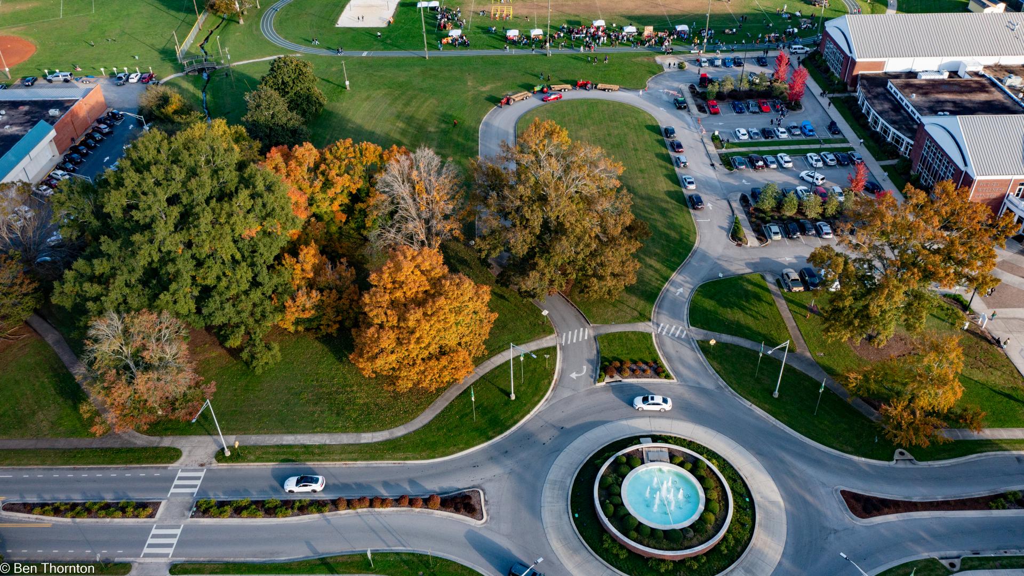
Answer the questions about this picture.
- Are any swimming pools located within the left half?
No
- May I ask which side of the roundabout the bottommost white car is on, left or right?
to its left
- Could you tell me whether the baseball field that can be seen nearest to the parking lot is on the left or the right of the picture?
left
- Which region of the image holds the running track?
top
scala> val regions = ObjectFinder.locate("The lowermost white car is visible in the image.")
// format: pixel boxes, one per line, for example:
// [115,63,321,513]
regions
[283,475,327,495]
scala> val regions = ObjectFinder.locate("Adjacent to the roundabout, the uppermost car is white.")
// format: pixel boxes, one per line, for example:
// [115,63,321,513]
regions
[632,395,673,413]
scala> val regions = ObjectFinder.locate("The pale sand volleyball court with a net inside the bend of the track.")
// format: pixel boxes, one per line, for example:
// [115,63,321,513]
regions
[336,0,400,27]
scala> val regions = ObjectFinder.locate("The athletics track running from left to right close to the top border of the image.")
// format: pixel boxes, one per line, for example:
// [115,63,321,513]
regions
[261,0,861,56]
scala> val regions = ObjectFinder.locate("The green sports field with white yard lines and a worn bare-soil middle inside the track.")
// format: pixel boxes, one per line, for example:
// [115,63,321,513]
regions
[427,0,776,32]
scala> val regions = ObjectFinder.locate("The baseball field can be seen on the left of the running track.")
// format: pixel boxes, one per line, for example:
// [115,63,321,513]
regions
[0,36,35,68]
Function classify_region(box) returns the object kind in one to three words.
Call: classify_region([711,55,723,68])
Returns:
vehicle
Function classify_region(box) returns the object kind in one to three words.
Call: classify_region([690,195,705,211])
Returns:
car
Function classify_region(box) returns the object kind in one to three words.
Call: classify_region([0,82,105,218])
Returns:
building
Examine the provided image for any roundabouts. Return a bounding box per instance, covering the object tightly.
[541,417,789,576]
